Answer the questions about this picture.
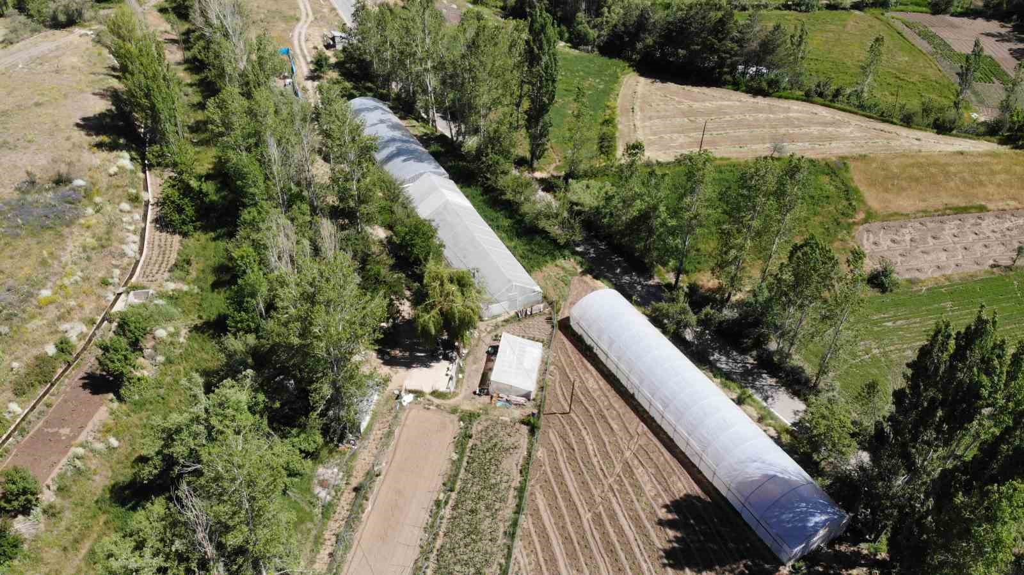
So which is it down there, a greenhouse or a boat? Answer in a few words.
greenhouse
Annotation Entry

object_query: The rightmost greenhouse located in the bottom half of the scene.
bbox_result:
[566,287,858,565]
